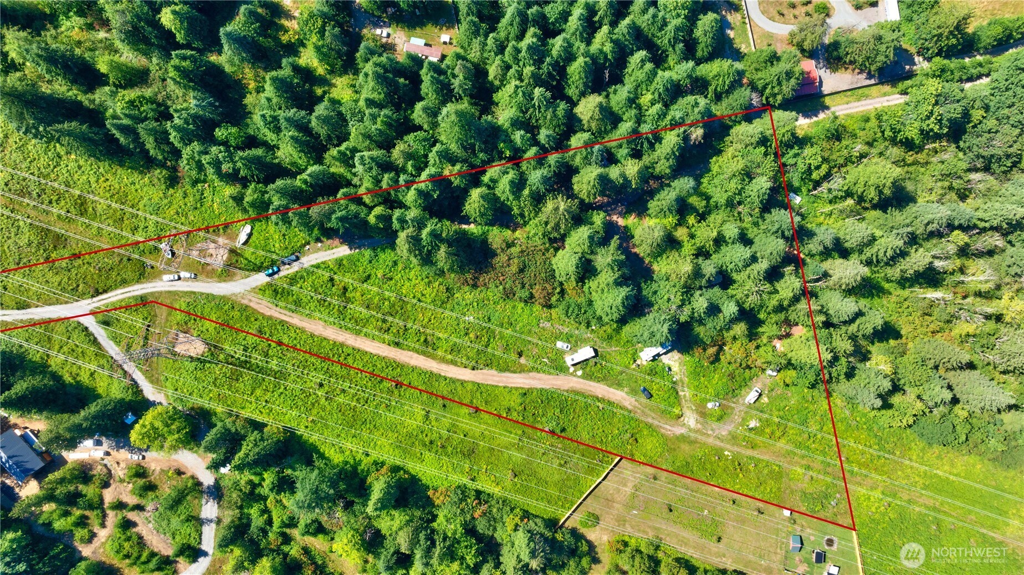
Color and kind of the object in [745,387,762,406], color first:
white vehicle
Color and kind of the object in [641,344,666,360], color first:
white vehicle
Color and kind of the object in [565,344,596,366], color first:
white camper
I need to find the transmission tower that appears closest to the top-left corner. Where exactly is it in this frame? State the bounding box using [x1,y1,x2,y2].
[157,221,229,276]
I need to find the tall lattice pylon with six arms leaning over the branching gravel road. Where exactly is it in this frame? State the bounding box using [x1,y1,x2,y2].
[119,322,208,385]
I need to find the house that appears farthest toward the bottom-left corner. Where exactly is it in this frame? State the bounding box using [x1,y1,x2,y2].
[0,422,52,482]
